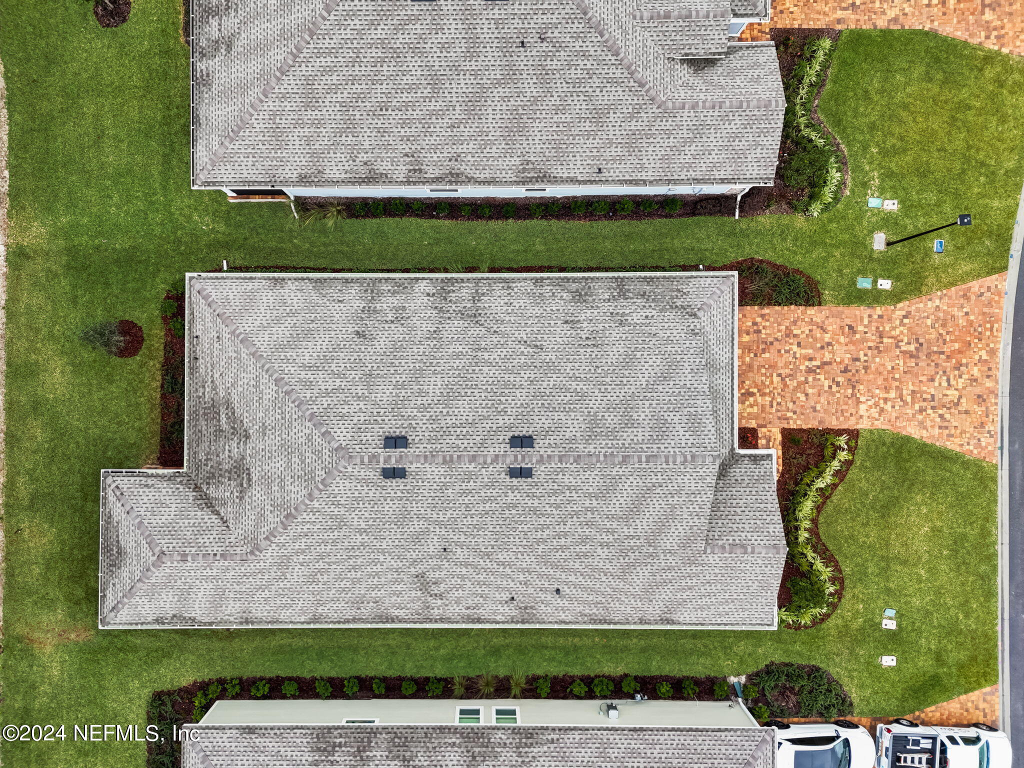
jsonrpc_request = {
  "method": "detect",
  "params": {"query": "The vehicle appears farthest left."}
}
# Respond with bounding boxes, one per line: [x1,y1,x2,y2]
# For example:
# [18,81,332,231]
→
[763,721,874,768]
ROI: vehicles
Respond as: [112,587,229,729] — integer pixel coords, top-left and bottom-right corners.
[763,721,874,768]
[873,718,1015,768]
